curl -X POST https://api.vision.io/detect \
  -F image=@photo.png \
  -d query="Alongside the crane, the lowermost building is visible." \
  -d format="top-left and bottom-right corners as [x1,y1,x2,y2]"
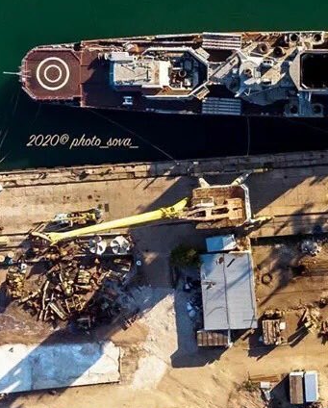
[201,249,260,349]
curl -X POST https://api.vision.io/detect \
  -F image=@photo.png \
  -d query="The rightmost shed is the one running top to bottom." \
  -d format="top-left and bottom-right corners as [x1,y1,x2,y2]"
[305,369,320,404]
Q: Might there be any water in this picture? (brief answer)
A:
Yes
